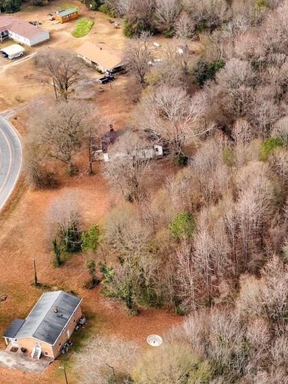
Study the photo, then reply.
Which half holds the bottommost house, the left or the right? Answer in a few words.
left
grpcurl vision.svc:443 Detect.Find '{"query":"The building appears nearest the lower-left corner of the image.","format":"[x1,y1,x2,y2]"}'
[2,290,82,364]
